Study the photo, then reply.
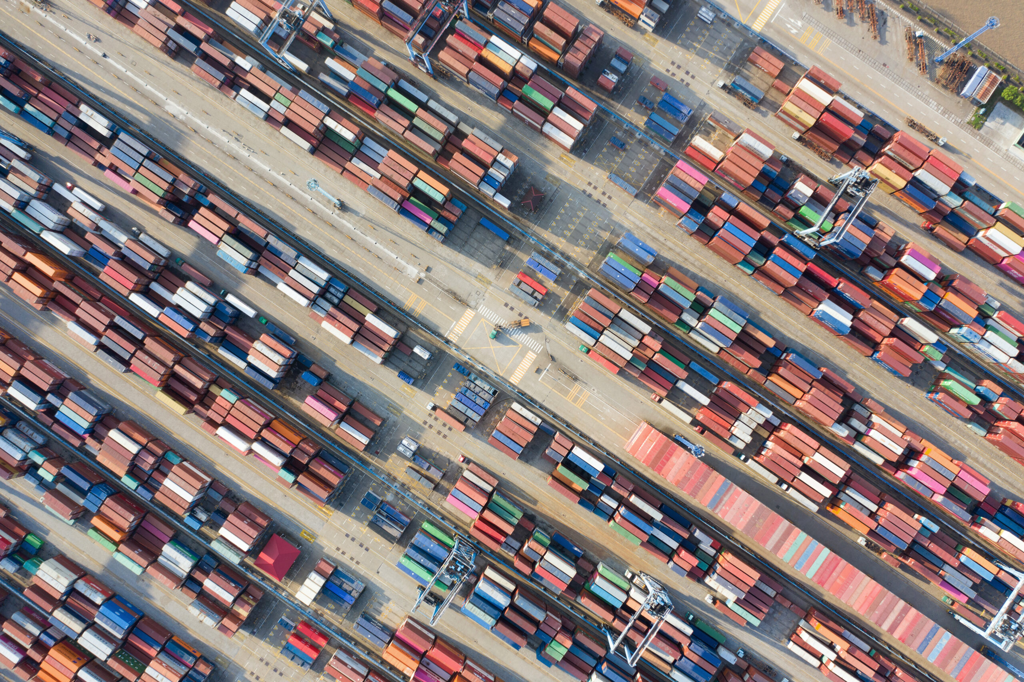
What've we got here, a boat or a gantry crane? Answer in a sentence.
The image shows a gantry crane.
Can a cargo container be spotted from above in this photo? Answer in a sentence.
Yes, a cargo container is visible in the scene.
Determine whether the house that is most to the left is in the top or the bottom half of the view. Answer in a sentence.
The bottom half of the photo is where the house that is most to the left is.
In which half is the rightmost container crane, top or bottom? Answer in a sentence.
You can find the rightmost container crane in the bottom half.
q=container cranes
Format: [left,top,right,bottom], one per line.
[790,159,888,252]
[400,0,478,81]
[943,551,1024,660]
[598,570,682,677]
[404,530,485,633]
[253,0,342,80]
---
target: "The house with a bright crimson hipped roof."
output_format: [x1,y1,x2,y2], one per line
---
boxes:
[254,526,300,580]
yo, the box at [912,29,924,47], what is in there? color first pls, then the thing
white vehicle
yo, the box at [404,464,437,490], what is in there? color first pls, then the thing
gray shipping container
